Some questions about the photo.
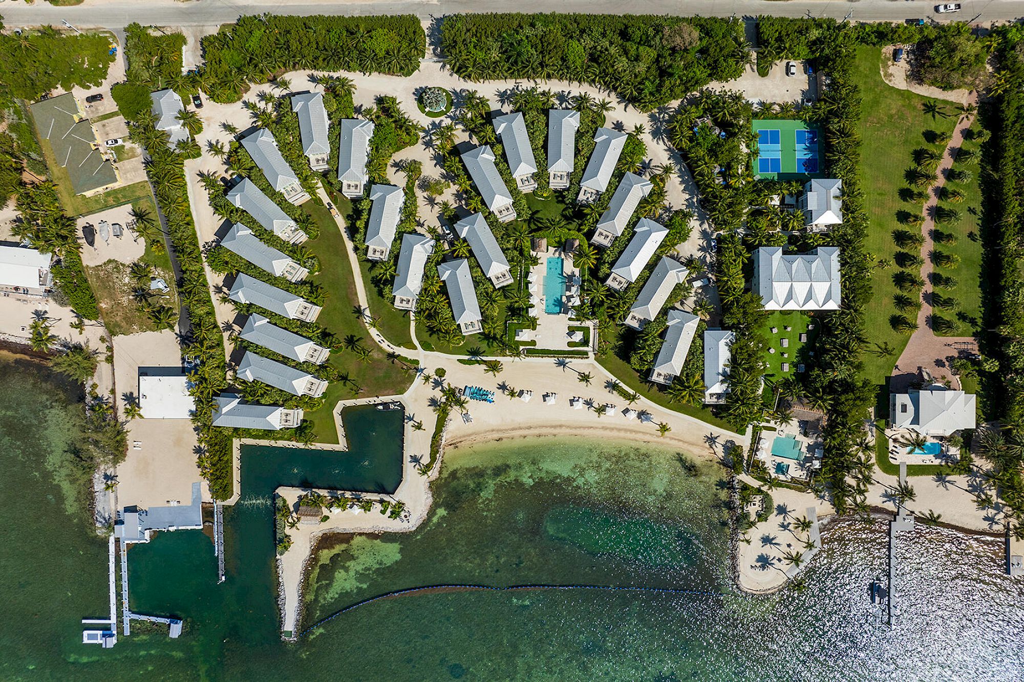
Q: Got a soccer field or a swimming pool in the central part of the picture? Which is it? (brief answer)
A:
swimming pool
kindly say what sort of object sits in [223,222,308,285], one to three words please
house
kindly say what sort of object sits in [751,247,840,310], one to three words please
building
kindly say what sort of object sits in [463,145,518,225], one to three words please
house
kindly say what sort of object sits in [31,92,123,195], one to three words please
building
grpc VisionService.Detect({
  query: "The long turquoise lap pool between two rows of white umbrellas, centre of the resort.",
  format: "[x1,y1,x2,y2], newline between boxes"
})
[521,248,597,353]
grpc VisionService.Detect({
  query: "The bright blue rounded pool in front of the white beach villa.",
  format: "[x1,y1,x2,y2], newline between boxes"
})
[888,428,959,464]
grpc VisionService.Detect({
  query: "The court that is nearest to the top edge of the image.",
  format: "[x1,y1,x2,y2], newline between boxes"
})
[753,117,828,180]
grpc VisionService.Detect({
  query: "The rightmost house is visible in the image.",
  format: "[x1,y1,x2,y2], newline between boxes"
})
[886,372,976,436]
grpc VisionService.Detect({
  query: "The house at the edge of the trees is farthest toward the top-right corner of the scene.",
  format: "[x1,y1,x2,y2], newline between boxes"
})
[797,179,842,233]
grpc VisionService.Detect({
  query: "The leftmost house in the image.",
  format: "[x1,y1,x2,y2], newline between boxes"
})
[0,246,58,297]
